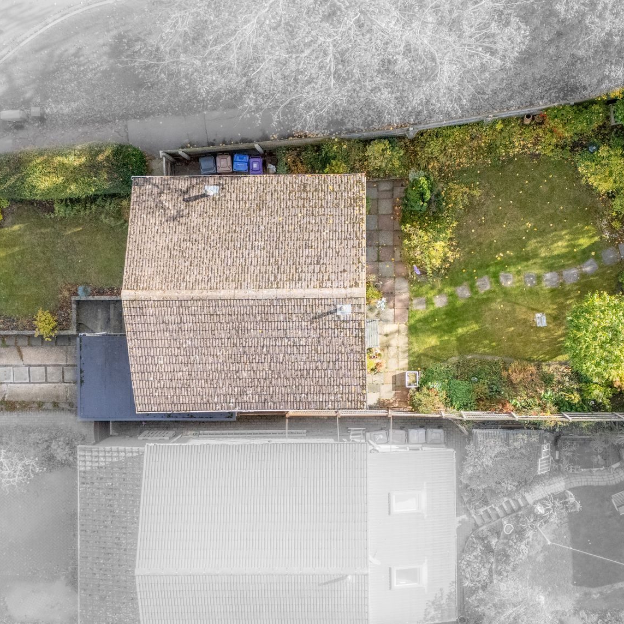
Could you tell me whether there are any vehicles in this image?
No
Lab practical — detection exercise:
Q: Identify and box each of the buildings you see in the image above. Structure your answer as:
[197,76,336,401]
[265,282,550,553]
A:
[121,171,368,416]
[135,439,370,624]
